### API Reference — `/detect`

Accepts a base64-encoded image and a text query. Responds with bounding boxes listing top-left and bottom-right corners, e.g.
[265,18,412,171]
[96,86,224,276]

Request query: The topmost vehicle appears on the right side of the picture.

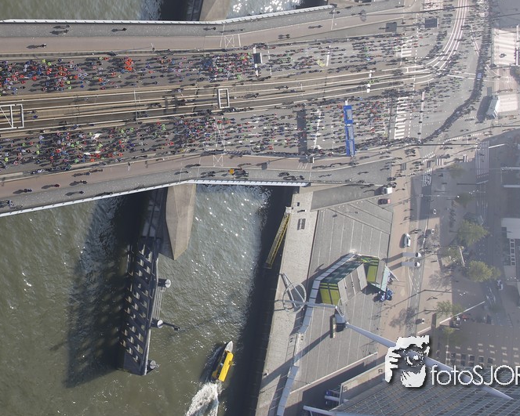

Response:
[488,91,507,124]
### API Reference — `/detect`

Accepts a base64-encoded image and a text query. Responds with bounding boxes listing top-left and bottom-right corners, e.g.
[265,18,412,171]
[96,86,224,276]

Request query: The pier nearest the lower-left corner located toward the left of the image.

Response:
[109,220,181,377]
